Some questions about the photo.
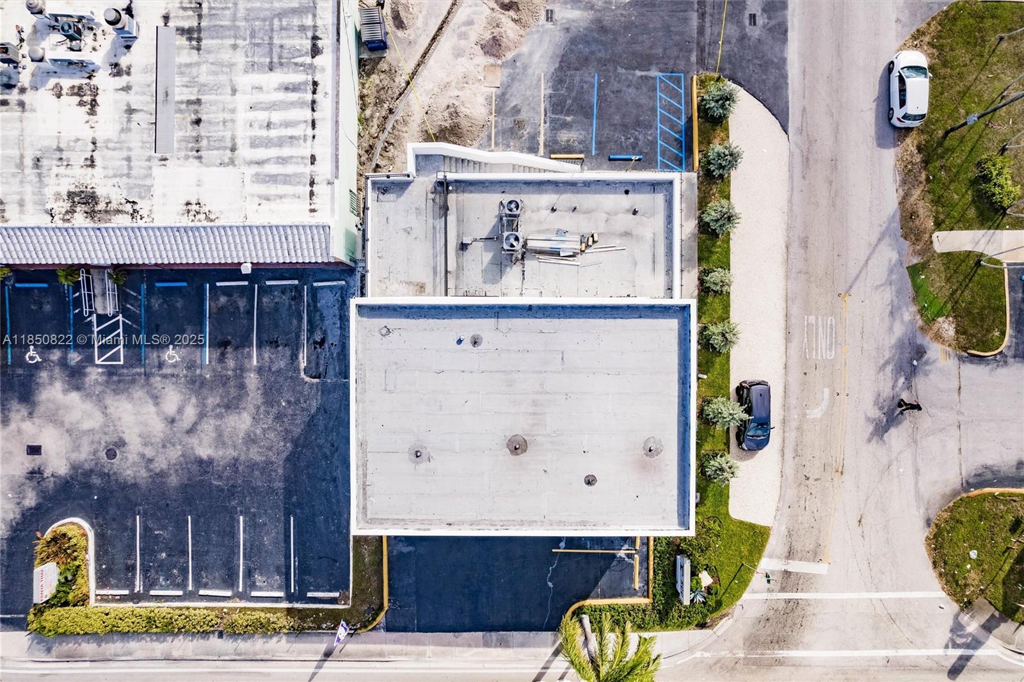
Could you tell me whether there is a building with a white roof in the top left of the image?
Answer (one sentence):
Yes, a building with a white roof appears in the top left of the image.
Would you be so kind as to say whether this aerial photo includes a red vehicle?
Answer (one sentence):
No, no red vehicle is visible in the view.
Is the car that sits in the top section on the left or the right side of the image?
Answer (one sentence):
The car that sits in the top section appears in the right half of the scene.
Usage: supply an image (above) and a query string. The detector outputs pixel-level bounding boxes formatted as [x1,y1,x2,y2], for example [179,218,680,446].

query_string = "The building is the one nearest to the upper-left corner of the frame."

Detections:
[0,0,358,273]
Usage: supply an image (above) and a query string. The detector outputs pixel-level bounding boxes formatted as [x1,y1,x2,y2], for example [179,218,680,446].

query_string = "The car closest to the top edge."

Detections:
[890,49,937,127]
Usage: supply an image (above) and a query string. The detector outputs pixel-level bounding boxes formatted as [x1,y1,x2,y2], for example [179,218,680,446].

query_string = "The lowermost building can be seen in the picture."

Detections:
[351,298,695,535]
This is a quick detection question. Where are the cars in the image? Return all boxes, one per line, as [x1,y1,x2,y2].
[890,49,937,127]
[738,378,781,452]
